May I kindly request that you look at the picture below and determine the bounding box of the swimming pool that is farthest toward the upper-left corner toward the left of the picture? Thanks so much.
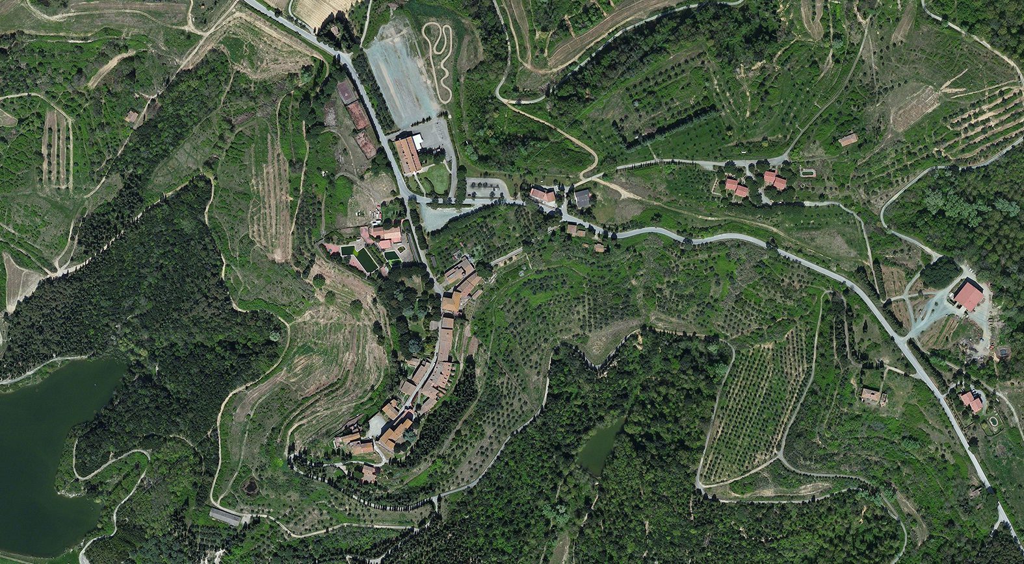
[340,245,379,273]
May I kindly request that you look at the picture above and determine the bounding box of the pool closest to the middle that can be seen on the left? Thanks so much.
[383,250,402,267]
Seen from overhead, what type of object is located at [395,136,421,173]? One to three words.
building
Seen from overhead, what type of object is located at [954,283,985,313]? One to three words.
barn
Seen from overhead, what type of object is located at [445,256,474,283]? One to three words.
house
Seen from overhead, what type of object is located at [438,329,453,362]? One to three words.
house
